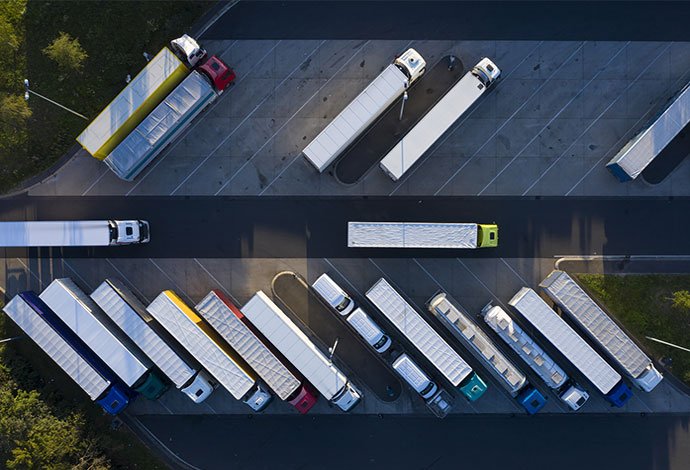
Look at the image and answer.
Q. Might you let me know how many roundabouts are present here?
0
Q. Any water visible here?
No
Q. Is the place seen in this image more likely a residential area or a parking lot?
parking lot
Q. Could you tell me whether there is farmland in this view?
No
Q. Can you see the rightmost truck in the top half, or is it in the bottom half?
top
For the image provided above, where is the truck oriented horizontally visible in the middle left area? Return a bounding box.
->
[0,220,150,248]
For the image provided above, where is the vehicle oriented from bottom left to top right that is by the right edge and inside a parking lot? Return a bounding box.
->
[605,78,690,182]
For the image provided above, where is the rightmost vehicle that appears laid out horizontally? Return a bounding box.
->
[347,222,497,250]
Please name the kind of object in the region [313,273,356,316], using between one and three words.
van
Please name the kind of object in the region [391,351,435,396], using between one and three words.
van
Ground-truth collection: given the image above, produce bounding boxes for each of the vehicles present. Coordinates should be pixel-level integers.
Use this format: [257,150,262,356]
[347,222,497,250]
[507,287,634,408]
[391,351,435,396]
[241,290,365,415]
[39,277,172,402]
[89,279,219,404]
[313,273,356,316]
[310,269,454,416]
[303,50,426,172]
[538,270,662,395]
[476,300,586,411]
[346,307,389,351]
[379,56,502,182]
[76,33,208,160]
[365,277,488,401]
[2,291,137,415]
[147,290,276,415]
[105,57,237,180]
[605,78,690,182]
[424,289,546,411]
[0,220,150,248]
[196,290,320,415]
